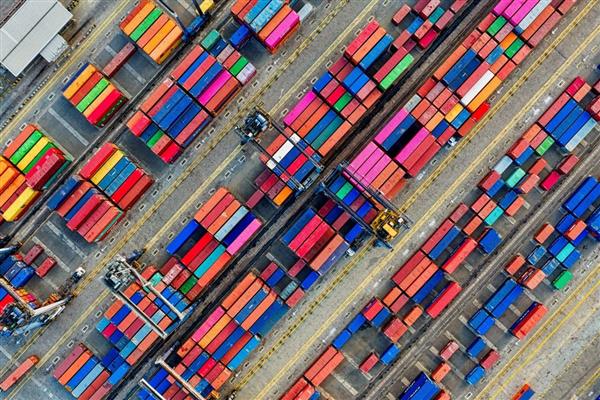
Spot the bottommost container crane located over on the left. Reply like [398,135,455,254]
[139,336,240,400]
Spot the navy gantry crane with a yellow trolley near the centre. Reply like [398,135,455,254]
[313,159,411,249]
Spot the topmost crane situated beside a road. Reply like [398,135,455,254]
[152,0,209,43]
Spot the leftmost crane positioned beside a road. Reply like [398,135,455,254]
[0,282,74,340]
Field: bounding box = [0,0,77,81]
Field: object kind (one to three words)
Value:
building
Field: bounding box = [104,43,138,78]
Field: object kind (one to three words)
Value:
shipping container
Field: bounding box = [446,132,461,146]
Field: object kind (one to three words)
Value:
vehicle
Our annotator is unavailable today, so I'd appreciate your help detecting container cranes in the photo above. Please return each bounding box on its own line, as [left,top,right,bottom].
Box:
[152,0,209,43]
[96,243,206,339]
[0,282,74,340]
[313,159,411,249]
[231,102,325,197]
[139,336,240,400]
